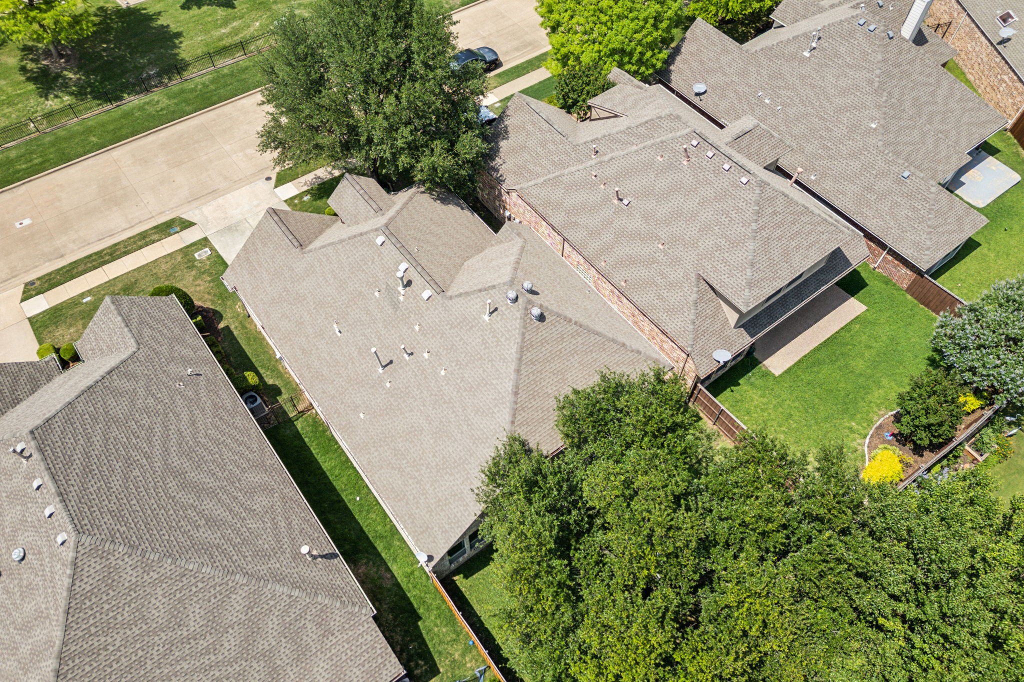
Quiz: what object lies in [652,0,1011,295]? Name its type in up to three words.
house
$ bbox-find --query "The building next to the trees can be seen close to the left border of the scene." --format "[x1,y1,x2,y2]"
[0,292,407,682]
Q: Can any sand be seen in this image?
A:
No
